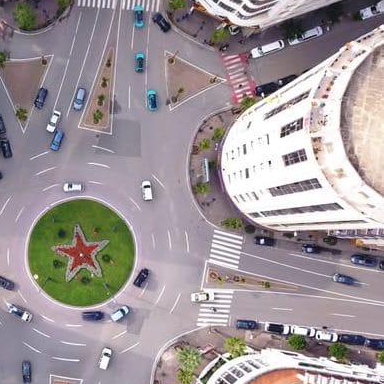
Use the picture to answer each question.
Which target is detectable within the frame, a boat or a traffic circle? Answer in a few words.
traffic circle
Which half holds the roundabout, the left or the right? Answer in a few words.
left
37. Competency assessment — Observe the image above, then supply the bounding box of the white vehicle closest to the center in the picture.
[140,180,153,202]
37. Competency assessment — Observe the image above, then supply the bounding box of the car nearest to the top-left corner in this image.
[33,87,49,109]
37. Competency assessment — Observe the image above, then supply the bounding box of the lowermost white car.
[98,346,112,370]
